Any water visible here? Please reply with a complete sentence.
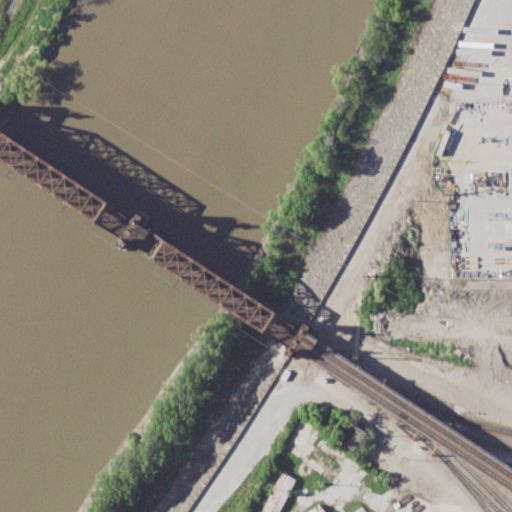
Yes, some water is visible.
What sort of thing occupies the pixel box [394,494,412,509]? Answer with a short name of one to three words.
vehicle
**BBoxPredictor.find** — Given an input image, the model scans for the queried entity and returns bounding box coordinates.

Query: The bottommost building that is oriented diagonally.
[262,476,293,512]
